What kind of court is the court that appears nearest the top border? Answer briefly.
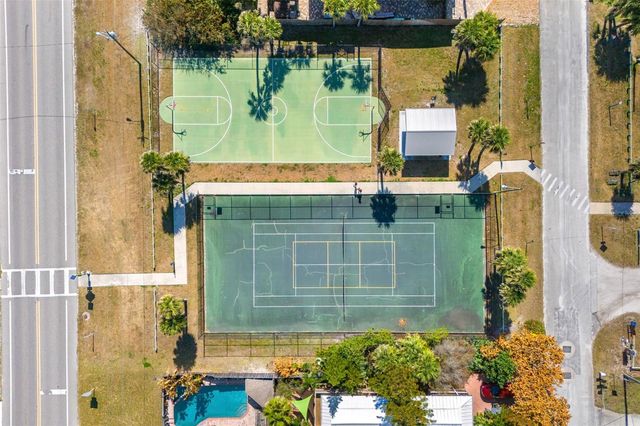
basketball court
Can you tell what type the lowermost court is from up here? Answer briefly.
tennis court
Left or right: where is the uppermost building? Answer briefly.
right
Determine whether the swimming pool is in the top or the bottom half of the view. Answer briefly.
bottom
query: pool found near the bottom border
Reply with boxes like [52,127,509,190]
[168,377,262,426]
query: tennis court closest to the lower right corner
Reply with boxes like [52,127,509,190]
[204,195,486,333]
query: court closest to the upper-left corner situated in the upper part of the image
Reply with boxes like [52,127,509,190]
[159,58,385,162]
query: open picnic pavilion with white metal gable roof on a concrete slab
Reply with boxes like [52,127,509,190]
[399,109,456,159]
